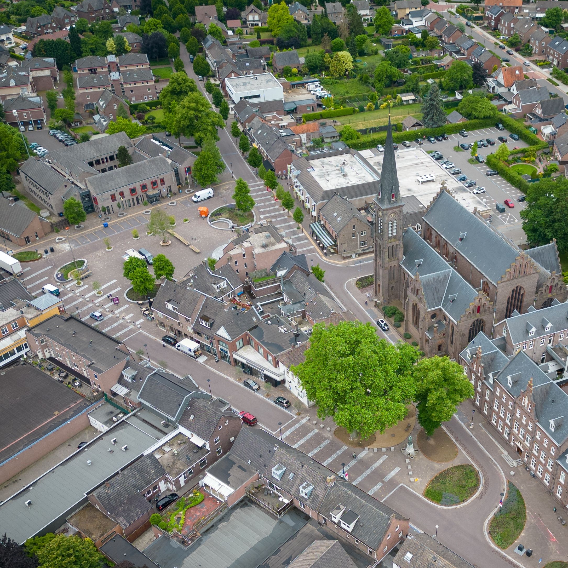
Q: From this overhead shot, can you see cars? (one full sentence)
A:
Yes, there's a car down there.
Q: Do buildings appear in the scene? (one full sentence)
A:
Yes, a building appears in the view.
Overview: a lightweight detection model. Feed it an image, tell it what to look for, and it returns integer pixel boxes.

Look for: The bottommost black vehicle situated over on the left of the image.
[152,494,181,511]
